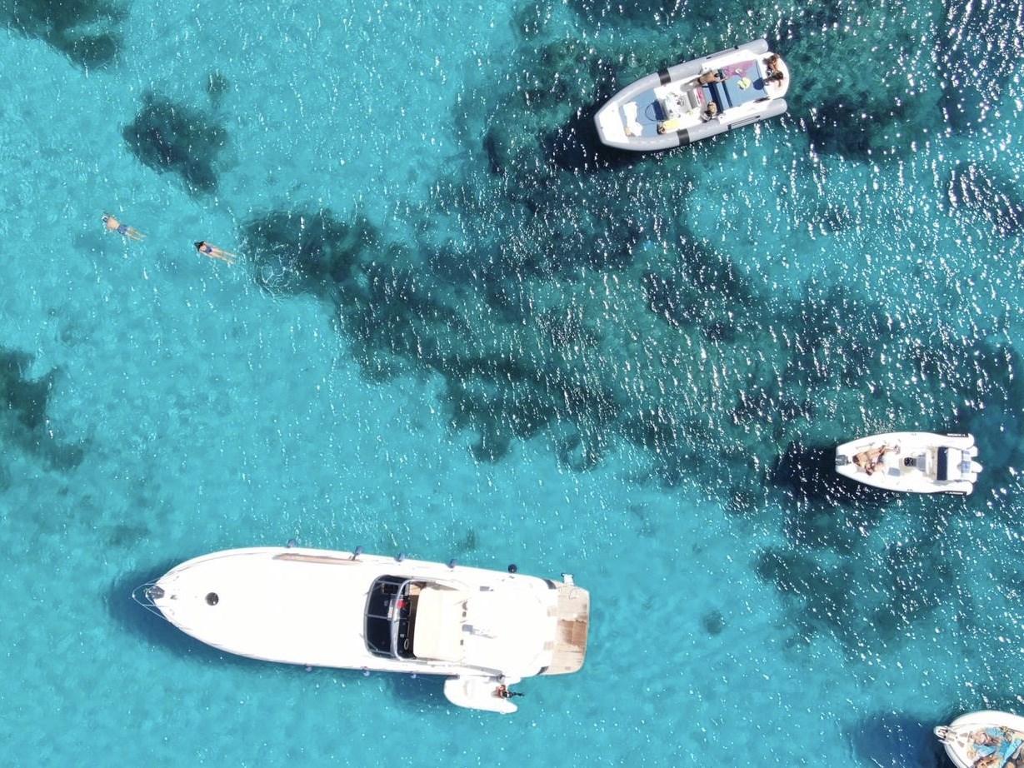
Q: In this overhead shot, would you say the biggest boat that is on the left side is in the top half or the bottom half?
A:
bottom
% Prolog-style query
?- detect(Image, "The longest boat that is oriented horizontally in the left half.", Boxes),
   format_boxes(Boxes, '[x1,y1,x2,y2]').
[132,547,590,682]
